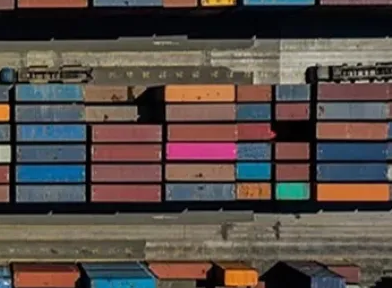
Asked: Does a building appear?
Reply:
No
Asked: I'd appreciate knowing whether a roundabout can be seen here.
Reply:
No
